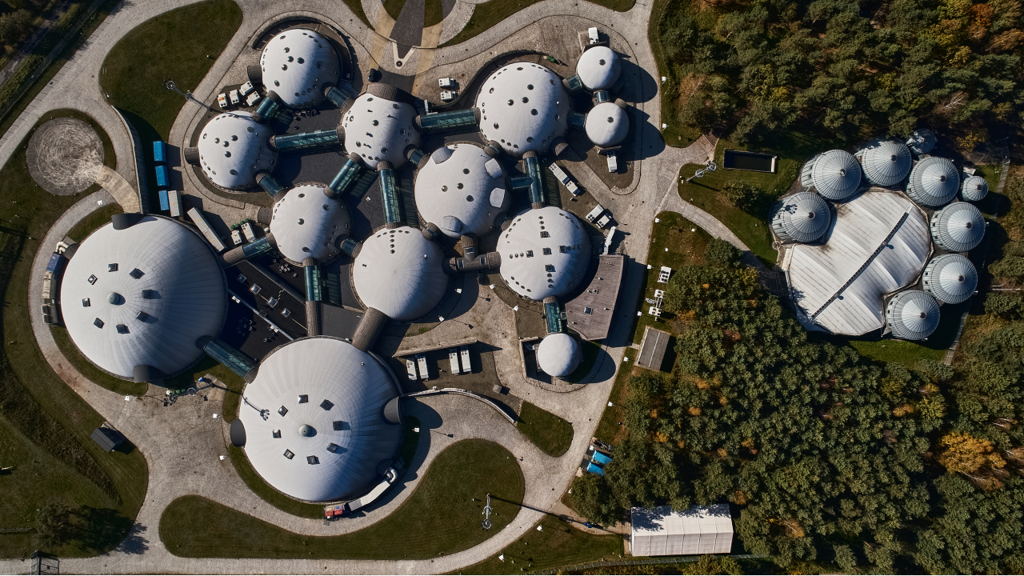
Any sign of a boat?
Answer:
No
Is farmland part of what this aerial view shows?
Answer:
No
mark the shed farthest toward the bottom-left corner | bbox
[90,424,122,452]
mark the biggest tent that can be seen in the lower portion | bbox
[627,502,733,556]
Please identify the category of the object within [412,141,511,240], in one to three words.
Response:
building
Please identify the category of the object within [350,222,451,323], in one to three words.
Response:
building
